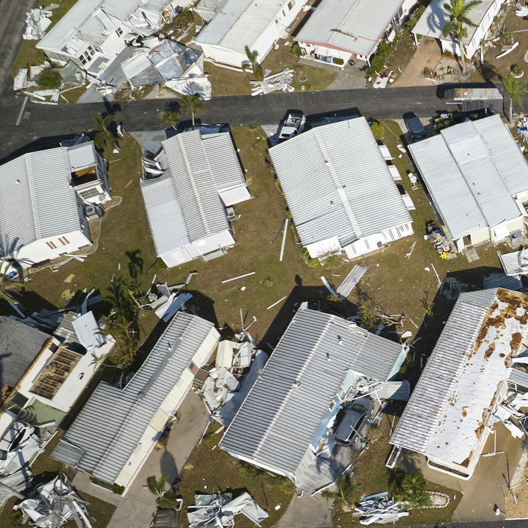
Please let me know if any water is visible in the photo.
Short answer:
No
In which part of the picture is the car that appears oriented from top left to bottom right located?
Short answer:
top right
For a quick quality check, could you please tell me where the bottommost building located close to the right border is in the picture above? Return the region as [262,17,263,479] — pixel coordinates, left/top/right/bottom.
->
[389,287,528,474]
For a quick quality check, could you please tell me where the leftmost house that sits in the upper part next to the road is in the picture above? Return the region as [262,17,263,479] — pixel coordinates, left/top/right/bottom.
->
[0,139,113,269]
